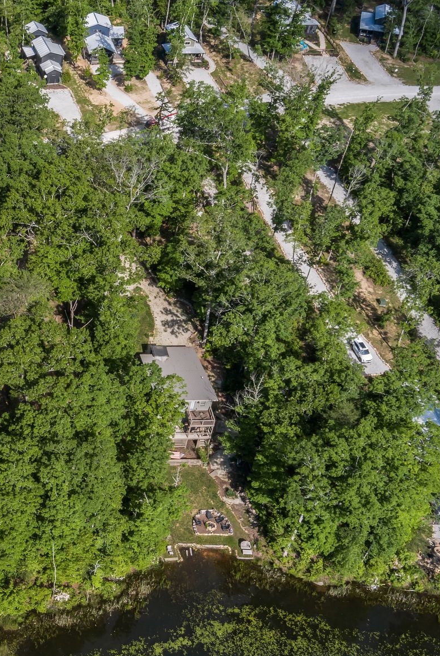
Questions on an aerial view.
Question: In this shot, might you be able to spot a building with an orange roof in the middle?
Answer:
No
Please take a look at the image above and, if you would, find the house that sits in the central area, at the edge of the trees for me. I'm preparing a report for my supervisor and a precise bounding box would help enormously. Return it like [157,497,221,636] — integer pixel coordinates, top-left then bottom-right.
[137,343,217,422]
